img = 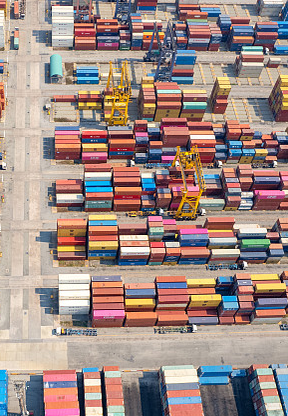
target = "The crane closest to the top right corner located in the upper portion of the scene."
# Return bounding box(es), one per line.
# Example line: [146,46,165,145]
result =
[140,25,181,82]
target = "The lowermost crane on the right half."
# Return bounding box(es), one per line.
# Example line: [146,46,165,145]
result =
[169,146,214,222]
